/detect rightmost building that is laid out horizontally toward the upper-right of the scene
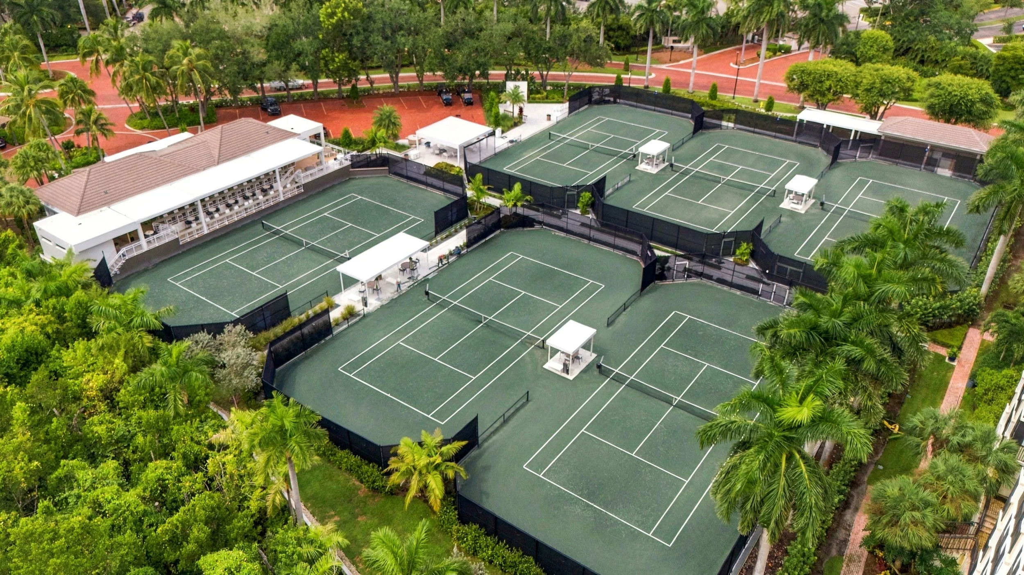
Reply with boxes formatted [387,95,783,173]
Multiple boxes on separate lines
[876,115,995,158]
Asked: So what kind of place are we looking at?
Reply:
sports ground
